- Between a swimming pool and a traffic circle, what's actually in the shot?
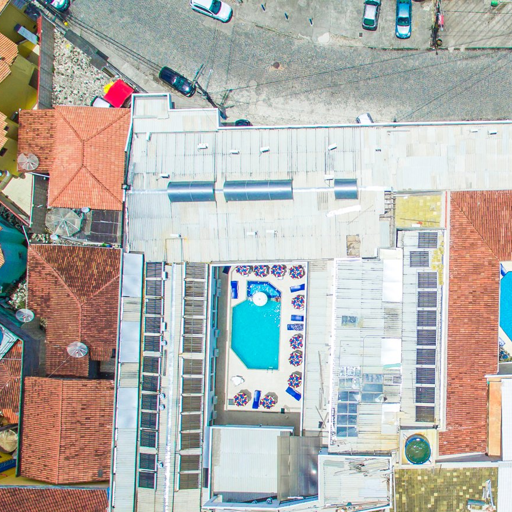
swimming pool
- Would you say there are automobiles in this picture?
Yes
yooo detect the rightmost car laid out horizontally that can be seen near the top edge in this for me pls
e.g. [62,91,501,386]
[189,0,234,23]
